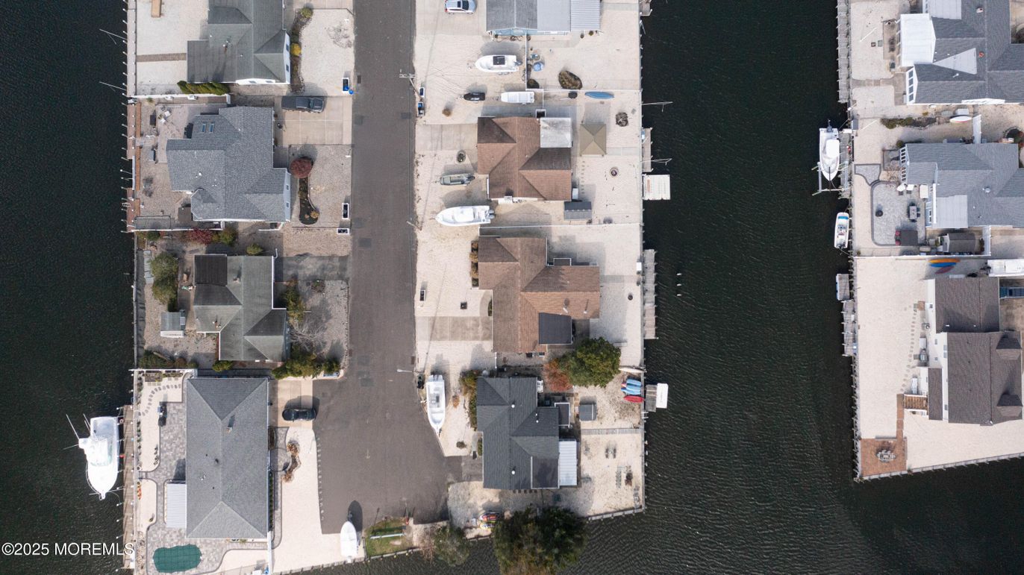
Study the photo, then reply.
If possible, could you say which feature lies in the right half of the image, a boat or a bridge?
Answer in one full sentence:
Looking in the right half of the image, you will find a boat.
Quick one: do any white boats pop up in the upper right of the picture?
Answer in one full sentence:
Yes, a white boat shows up in the upper right of the picture.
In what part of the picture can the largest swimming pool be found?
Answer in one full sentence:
You can find the largest swimming pool in the bottom left area of the picture.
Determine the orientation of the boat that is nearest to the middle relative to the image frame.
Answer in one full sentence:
The boat that is nearest to the middle is oriented from left to right.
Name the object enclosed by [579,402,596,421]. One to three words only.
shed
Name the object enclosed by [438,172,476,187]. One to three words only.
boat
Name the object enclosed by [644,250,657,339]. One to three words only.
pier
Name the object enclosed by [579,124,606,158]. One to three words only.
gazebo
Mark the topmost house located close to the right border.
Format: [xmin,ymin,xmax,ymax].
[889,0,1024,107]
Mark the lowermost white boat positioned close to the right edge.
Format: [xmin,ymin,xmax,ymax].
[982,257,1024,277]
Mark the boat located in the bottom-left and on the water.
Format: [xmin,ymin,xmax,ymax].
[66,415,121,503]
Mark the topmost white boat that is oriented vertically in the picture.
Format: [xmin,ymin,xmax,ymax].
[818,121,840,193]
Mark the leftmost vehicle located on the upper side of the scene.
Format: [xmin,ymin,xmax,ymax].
[281,95,326,114]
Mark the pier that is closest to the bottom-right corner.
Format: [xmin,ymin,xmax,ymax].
[839,300,854,356]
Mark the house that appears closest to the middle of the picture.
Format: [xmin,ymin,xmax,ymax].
[478,236,601,353]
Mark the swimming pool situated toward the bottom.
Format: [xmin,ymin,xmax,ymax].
[151,544,203,574]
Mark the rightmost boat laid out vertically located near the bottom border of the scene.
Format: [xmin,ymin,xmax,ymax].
[341,521,358,564]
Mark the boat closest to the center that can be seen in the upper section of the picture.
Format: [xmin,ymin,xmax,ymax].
[435,205,495,227]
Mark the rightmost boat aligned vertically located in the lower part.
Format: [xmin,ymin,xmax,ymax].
[426,376,446,439]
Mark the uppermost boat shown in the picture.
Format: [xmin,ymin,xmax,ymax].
[474,56,524,75]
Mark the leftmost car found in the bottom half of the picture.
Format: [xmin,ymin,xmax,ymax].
[284,406,317,422]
